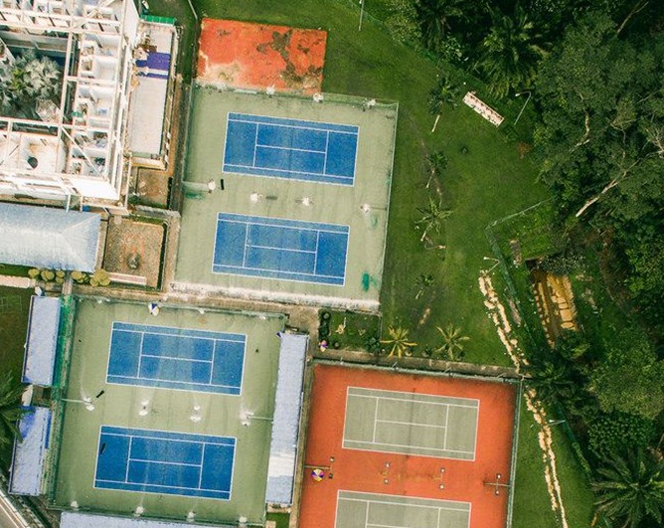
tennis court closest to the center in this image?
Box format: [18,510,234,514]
[211,213,350,285]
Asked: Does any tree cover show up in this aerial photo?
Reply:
Yes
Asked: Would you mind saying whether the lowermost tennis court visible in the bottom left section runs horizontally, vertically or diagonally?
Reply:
horizontally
